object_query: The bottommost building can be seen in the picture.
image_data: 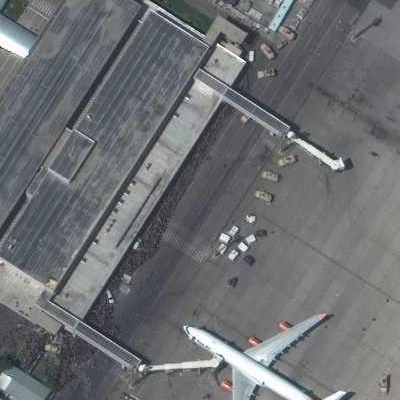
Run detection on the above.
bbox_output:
[0,367,52,400]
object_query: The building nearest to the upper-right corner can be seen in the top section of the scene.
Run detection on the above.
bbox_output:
[269,0,295,33]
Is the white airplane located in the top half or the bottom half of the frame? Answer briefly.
bottom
